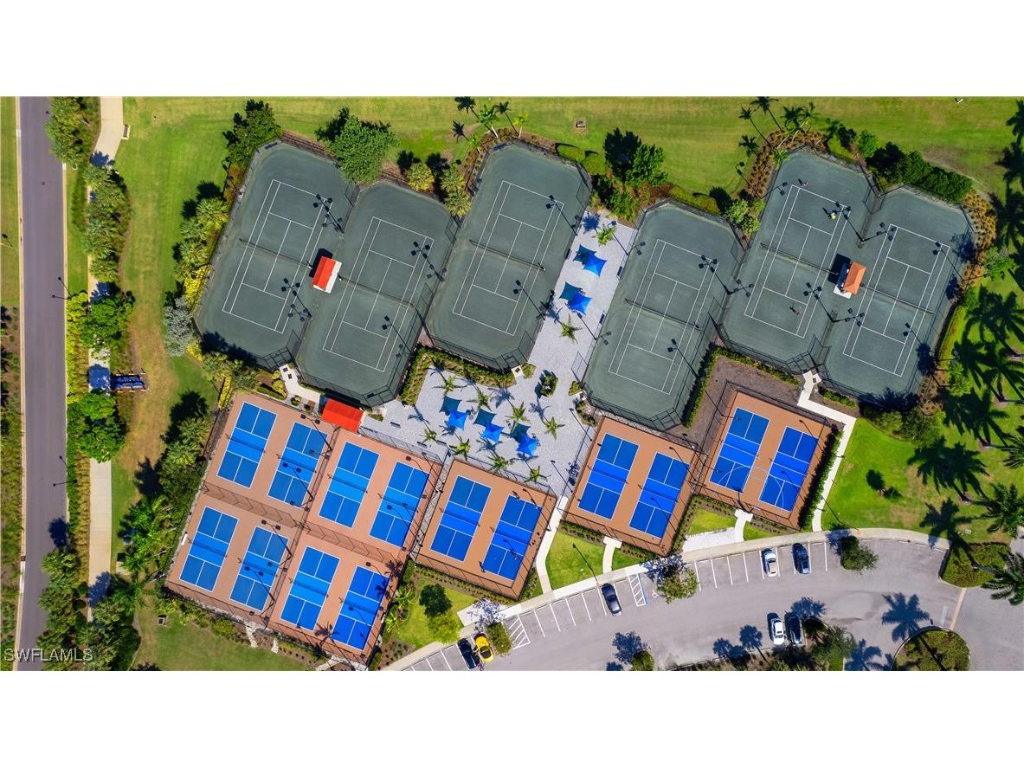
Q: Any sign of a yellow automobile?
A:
Yes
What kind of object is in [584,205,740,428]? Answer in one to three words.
tennis court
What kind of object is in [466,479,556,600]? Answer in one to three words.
sports court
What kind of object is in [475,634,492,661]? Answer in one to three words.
car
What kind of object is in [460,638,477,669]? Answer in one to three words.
car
